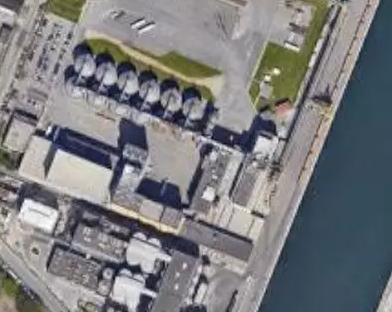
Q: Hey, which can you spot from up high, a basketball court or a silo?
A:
silo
